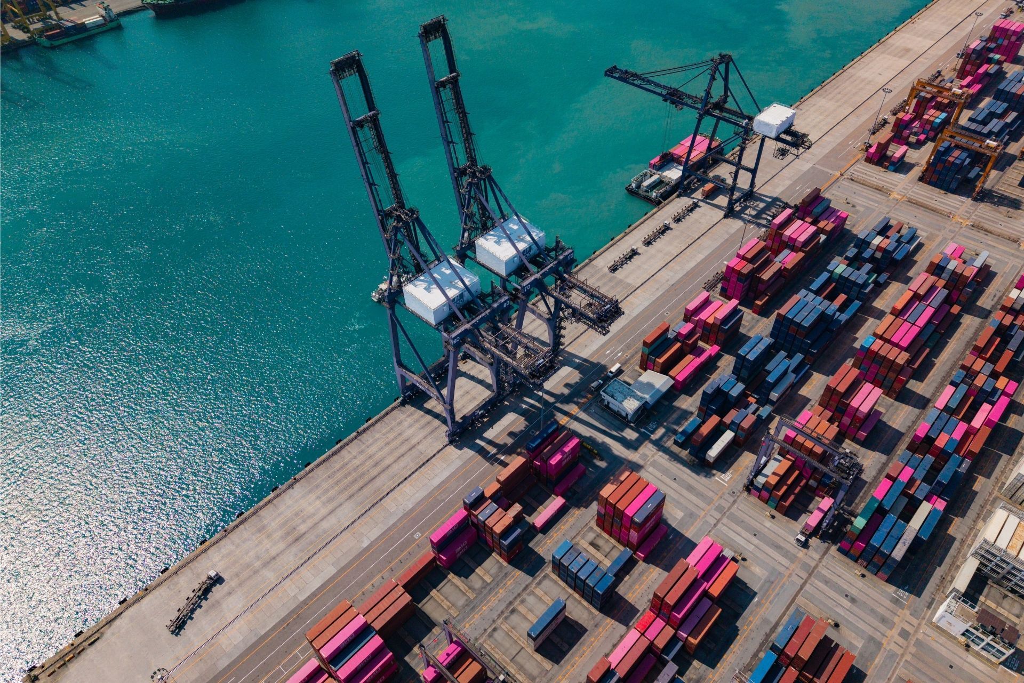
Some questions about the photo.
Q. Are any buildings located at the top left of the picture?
No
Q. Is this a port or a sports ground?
port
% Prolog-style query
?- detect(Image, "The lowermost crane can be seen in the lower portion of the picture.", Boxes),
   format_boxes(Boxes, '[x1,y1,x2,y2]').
[408,609,523,683]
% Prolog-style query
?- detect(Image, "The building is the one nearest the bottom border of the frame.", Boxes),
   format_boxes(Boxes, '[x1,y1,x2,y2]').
[930,588,1018,669]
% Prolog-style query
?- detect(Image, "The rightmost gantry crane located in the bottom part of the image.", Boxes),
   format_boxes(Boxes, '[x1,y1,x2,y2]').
[741,409,871,540]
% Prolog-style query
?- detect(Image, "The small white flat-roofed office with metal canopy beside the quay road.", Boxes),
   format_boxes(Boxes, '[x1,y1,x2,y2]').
[598,368,675,425]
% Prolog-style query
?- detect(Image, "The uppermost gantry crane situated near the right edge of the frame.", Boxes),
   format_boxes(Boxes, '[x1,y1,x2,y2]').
[893,73,974,143]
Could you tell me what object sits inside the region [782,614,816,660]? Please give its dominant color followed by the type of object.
red shipping container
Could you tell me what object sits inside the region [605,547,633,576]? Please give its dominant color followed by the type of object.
blue shipping container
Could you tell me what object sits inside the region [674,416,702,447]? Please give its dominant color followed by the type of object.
blue shipping container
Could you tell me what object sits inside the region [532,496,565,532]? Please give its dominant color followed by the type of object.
pink shipping container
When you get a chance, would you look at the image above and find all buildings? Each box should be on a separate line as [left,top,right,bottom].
[930,588,1018,669]
[598,368,675,425]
